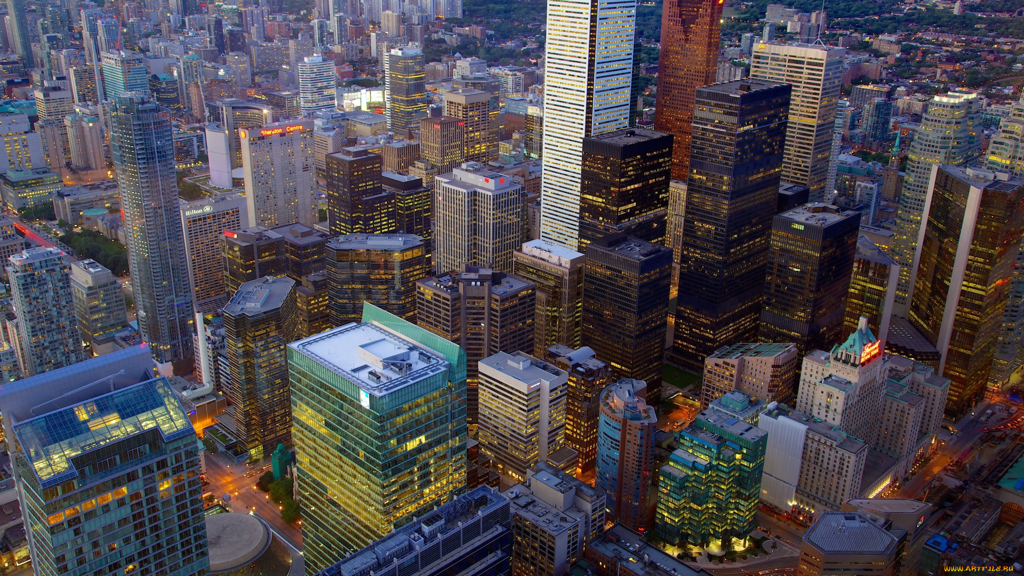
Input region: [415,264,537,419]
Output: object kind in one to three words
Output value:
building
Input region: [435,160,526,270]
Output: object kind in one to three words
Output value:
building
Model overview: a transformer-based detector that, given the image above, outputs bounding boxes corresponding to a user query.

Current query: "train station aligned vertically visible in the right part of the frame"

[995,458,1024,525]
